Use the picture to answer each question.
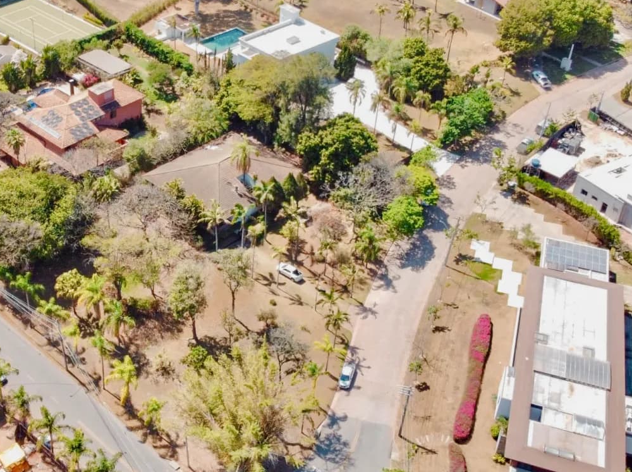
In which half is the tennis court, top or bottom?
top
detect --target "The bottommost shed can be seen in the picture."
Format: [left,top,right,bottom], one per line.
[0,444,27,472]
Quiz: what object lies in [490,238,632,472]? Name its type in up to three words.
house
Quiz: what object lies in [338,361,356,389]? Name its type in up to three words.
vehicle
